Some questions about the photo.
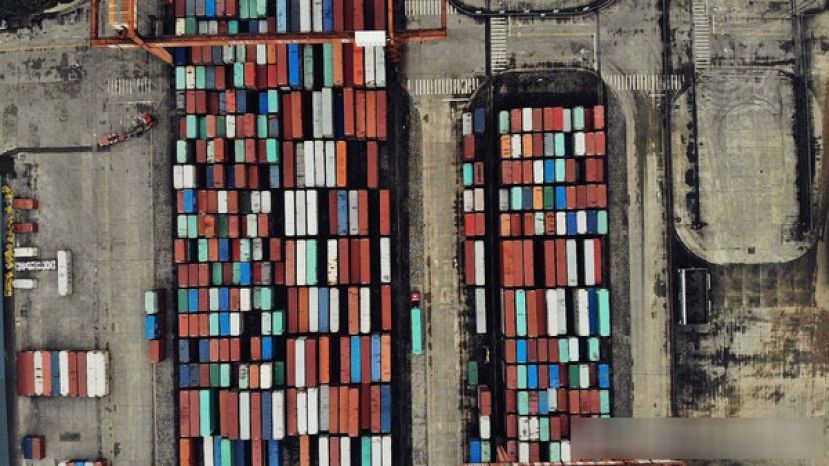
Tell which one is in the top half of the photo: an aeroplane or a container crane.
container crane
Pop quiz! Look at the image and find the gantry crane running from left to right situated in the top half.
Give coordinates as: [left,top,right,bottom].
[91,0,445,74]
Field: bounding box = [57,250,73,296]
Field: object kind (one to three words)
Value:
vehicle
